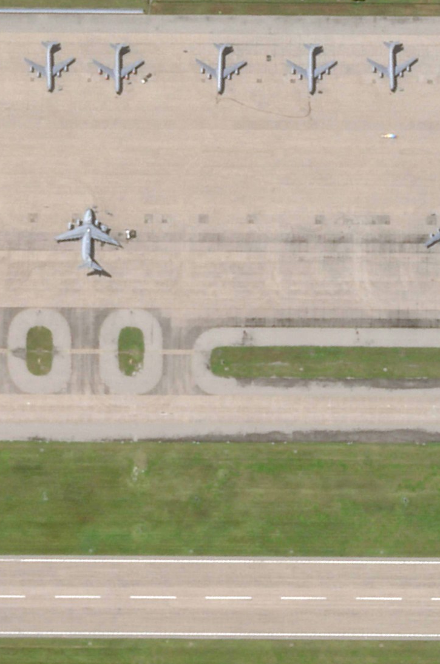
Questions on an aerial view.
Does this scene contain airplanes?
Yes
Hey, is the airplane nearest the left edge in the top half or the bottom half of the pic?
top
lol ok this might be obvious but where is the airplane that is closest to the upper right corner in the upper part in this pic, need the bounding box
[367,40,417,92]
